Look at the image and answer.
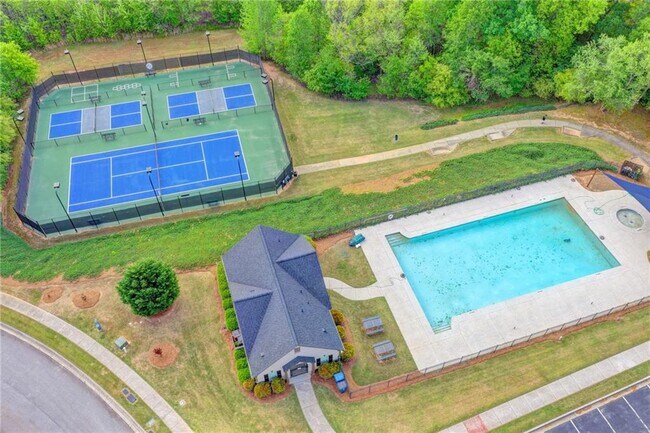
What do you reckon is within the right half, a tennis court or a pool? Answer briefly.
pool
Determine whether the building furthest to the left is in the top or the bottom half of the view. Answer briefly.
bottom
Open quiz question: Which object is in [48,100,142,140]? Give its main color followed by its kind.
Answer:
blue sports court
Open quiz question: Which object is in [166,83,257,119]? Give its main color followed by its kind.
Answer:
blue sports court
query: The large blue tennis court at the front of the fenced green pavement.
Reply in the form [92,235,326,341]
[68,129,249,213]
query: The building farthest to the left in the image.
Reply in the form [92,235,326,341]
[219,226,346,389]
